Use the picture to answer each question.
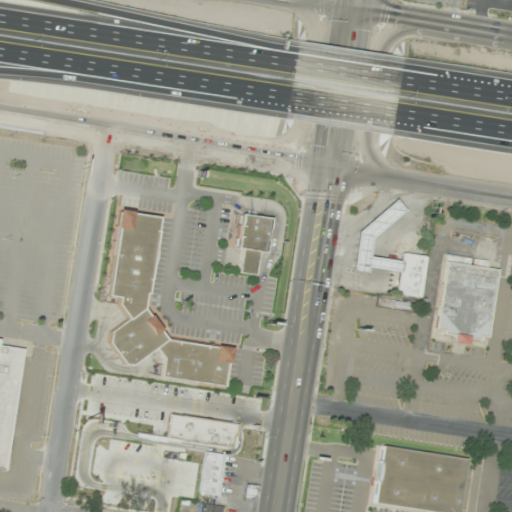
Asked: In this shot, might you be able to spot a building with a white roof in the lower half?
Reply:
Yes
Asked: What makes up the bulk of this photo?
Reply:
paved ground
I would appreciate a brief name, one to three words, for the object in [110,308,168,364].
building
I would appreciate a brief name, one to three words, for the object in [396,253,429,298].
building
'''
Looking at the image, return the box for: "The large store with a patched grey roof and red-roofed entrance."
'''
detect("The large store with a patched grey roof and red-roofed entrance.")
[430,254,502,346]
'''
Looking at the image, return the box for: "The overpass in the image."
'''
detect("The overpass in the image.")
[290,38,404,134]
